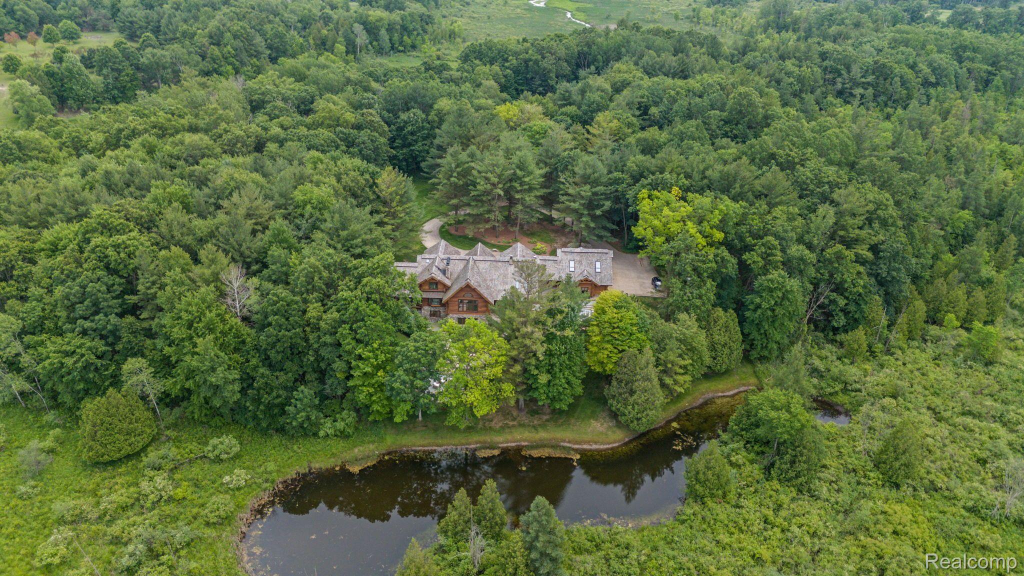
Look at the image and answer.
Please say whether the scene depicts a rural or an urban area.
rural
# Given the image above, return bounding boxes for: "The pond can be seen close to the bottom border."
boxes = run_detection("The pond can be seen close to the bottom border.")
[243,389,777,576]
